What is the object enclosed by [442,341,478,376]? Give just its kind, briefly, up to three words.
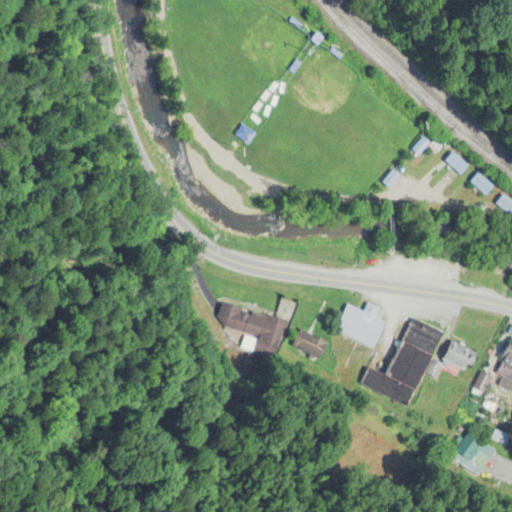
house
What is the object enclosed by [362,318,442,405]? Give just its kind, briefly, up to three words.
building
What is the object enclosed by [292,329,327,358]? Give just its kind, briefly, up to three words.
house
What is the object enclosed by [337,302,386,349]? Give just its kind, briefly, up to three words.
building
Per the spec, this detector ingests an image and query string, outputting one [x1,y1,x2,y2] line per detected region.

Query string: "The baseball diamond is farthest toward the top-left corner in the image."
[170,0,306,142]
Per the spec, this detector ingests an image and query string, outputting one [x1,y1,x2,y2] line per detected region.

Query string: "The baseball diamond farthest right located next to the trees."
[252,56,422,194]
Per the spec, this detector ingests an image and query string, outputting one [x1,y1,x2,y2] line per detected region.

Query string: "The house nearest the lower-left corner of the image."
[220,304,288,356]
